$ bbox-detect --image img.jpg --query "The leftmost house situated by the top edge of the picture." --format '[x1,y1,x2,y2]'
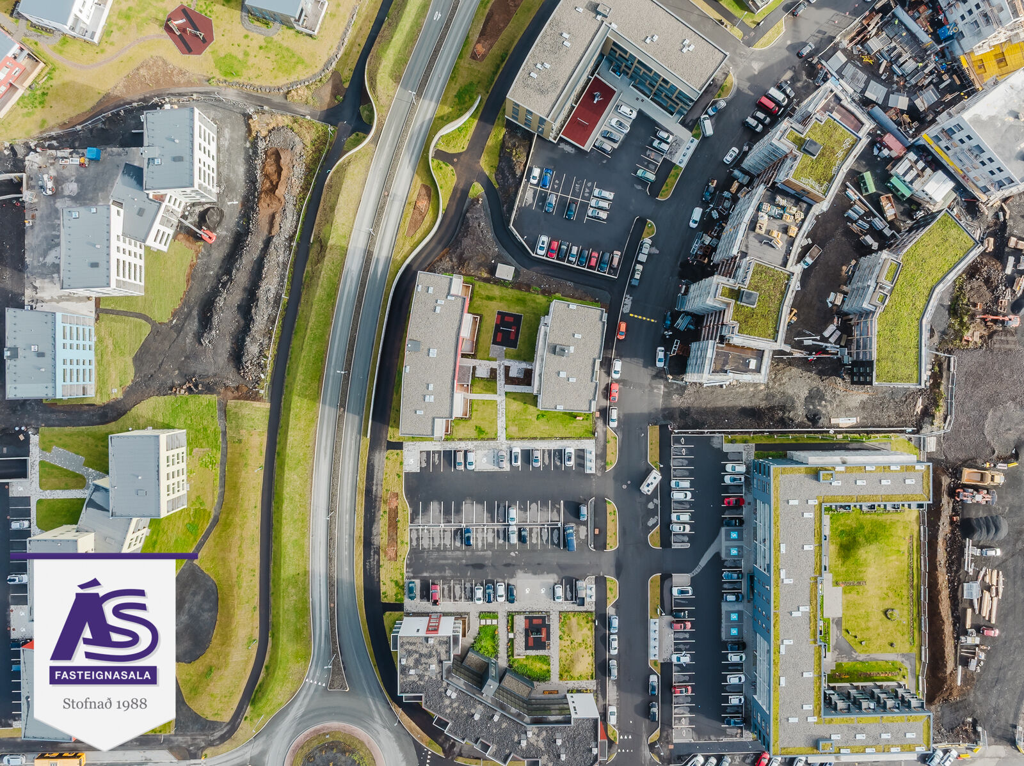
[0,29,53,129]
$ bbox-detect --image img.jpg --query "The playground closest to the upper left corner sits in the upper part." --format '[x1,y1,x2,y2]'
[163,3,214,55]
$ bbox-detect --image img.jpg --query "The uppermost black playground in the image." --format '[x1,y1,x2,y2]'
[492,310,523,349]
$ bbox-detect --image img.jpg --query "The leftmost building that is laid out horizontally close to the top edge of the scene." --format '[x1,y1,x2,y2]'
[19,0,118,46]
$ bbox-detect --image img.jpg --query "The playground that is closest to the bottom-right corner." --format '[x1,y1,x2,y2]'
[524,616,546,651]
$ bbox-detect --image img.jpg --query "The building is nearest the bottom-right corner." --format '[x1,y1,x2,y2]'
[751,450,934,763]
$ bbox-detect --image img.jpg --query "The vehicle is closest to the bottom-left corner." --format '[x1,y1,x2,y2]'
[5,753,26,765]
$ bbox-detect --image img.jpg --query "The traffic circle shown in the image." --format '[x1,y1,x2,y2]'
[221,675,461,766]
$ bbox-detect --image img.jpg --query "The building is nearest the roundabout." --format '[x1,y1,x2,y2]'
[391,617,608,766]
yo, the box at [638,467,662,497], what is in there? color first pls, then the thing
white camper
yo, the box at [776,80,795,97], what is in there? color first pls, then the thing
gray car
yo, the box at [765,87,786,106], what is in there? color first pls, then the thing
white vehicle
